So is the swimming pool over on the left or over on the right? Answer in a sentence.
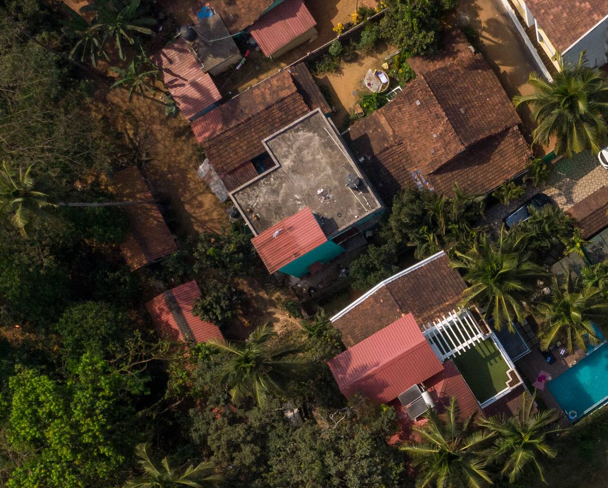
The swimming pool appears in the right half of the scene.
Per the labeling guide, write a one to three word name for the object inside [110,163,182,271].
shed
